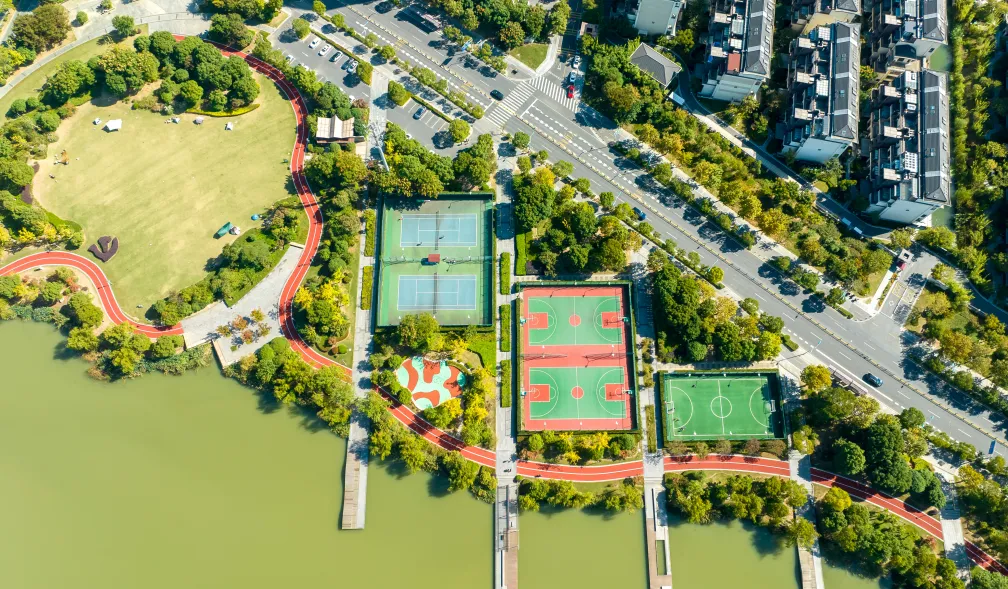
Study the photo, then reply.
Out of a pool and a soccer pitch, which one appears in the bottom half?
soccer pitch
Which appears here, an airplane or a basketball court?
basketball court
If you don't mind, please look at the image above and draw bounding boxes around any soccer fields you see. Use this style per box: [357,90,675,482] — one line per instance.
[662,374,780,441]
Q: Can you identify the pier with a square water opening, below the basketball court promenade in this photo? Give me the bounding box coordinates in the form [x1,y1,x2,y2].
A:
[646,492,672,589]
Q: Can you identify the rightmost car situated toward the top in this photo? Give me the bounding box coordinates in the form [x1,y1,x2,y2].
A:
[632,206,647,219]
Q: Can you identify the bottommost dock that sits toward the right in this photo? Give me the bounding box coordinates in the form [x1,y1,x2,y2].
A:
[797,546,824,589]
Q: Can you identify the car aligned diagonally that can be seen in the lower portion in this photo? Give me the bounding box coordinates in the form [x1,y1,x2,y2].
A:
[865,371,883,386]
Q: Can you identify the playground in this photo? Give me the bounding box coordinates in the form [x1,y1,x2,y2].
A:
[396,356,468,410]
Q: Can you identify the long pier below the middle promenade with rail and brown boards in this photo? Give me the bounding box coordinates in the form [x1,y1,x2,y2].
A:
[494,488,518,589]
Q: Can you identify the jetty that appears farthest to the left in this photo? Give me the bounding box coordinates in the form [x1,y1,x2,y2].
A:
[342,441,370,529]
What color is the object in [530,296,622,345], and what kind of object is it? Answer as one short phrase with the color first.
green basketball court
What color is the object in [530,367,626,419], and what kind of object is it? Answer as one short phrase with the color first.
green basketball court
